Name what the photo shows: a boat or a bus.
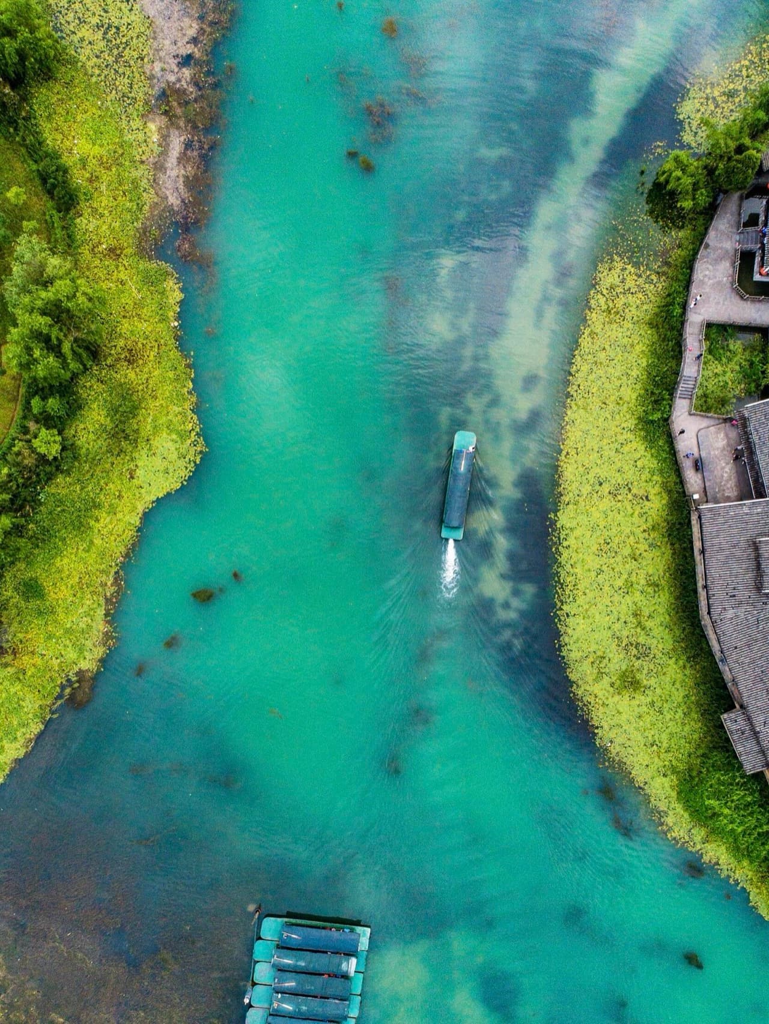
boat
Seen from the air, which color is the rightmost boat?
blue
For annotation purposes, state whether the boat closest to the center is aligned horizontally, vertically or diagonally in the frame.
vertically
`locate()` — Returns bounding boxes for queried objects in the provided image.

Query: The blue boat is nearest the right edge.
[441,431,475,540]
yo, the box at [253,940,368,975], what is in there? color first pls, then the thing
blue boat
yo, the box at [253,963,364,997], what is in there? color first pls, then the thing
blue boat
